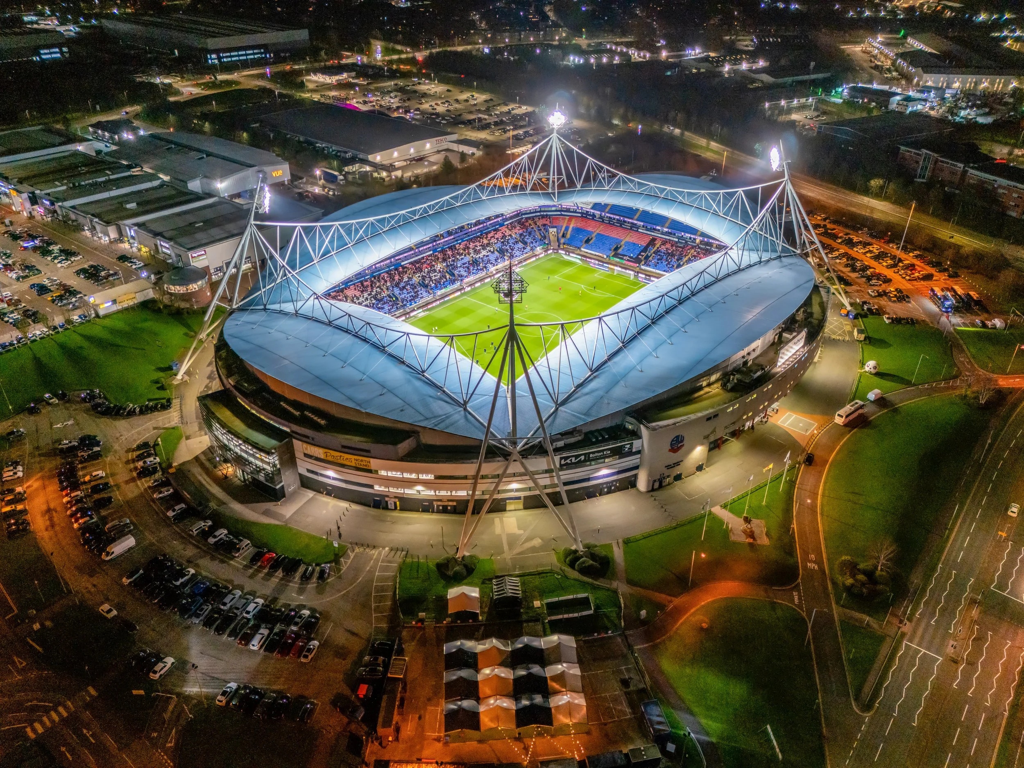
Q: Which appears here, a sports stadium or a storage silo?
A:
sports stadium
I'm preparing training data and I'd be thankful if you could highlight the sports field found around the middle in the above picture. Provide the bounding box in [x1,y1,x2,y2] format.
[405,251,648,382]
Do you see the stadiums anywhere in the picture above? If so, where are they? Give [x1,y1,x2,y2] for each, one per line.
[196,134,828,516]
